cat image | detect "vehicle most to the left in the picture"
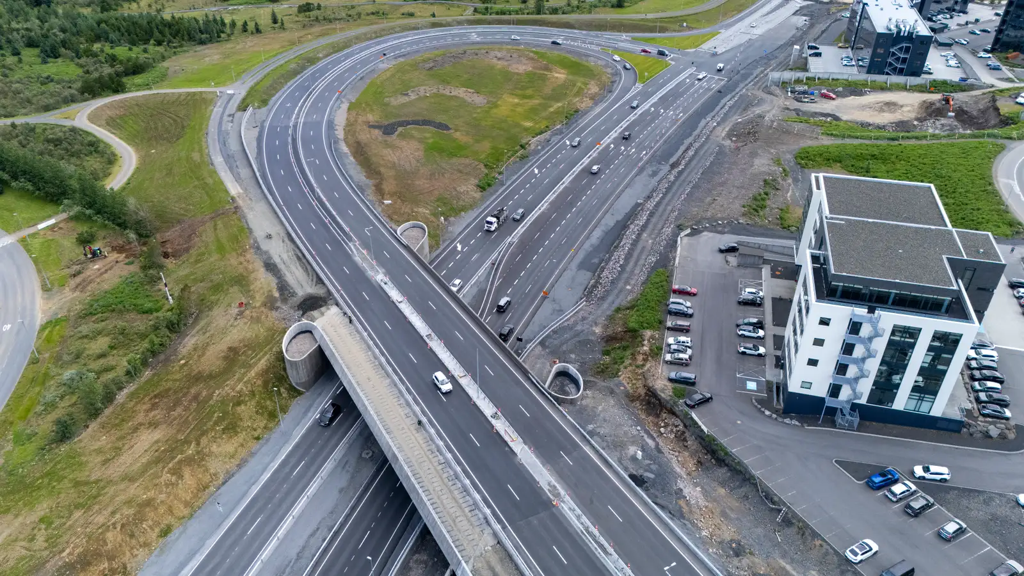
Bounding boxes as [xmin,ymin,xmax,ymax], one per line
[79,244,103,259]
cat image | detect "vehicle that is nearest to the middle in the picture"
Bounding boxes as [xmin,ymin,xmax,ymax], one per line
[496,297,512,313]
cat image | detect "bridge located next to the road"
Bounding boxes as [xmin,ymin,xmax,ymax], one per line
[317,217,552,576]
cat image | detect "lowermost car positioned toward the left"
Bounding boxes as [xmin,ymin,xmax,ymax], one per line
[318,403,340,426]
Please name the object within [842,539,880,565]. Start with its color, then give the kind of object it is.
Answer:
white car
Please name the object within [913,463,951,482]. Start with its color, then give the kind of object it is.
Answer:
white car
